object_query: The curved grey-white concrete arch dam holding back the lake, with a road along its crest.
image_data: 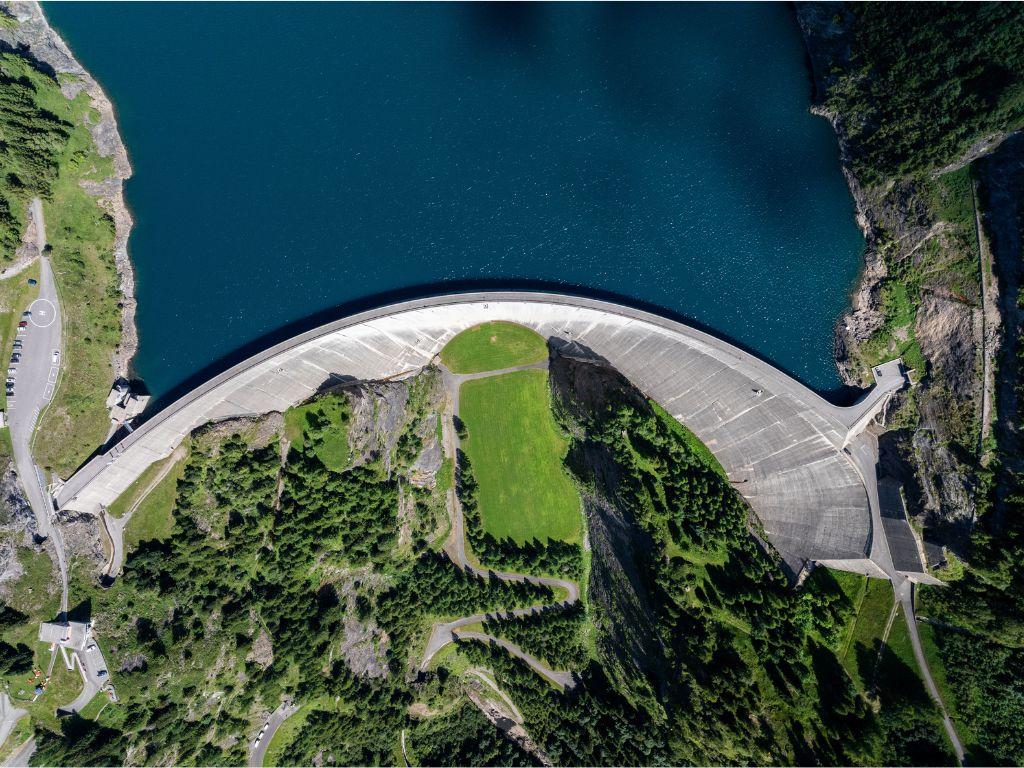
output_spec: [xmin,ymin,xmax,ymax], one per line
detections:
[56,291,934,586]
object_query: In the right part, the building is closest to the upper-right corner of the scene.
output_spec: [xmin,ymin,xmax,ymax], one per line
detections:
[870,358,905,393]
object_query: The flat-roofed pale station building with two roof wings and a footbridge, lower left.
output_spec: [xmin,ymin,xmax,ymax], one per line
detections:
[40,609,105,651]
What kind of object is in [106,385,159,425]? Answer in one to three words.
house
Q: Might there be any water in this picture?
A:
Yes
